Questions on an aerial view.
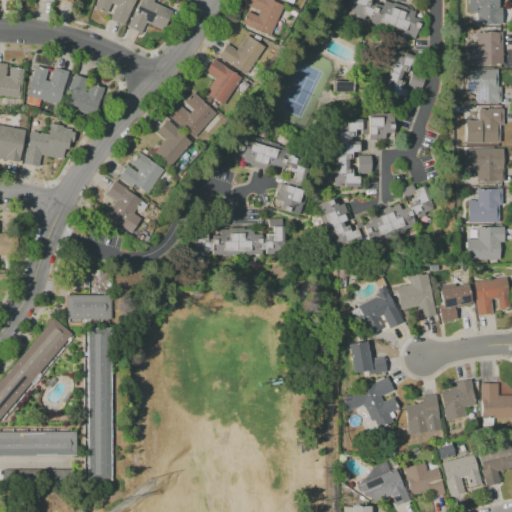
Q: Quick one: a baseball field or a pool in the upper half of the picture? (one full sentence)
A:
The feature located in the upper half of the picture is a pool.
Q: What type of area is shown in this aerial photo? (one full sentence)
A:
The picture captures a residential area.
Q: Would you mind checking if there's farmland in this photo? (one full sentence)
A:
No, the scene doesn't show any farmland.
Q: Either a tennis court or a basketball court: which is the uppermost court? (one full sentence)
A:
I'd identify the uppermost court as a tennis court.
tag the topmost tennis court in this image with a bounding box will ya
[282,56,332,126]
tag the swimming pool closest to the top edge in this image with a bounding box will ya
[328,41,354,61]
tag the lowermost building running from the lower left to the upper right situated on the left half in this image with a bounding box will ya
[0,322,72,424]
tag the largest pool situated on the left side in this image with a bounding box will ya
[48,378,68,404]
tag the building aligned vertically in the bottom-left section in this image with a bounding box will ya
[88,330,114,481]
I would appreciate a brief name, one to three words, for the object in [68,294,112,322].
building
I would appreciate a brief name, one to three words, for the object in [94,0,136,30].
house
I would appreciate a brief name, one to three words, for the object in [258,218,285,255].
house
